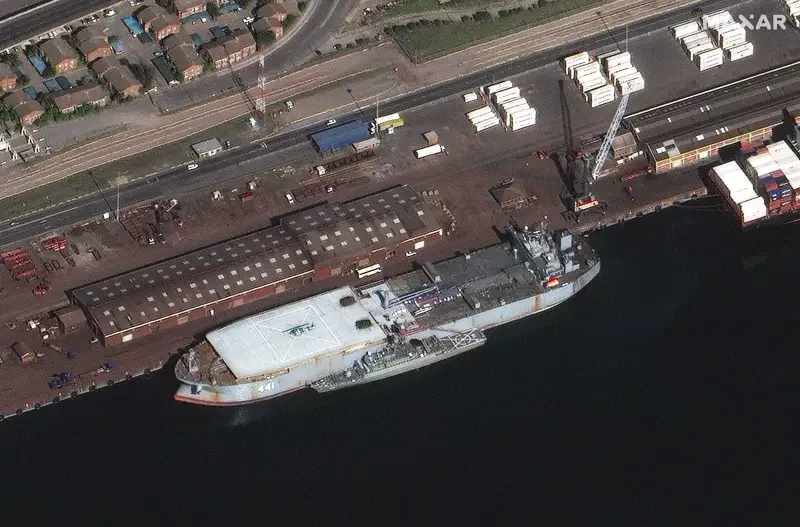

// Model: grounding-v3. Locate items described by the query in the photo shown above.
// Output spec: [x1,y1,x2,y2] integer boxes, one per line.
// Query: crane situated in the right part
[564,91,630,221]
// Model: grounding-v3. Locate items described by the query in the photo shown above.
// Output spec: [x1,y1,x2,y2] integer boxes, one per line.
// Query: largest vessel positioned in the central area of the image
[170,209,598,405]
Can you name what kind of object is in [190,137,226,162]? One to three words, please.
building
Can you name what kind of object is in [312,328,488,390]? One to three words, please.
ship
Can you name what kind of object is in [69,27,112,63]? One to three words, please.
house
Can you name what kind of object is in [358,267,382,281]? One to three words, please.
vehicle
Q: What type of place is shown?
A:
port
